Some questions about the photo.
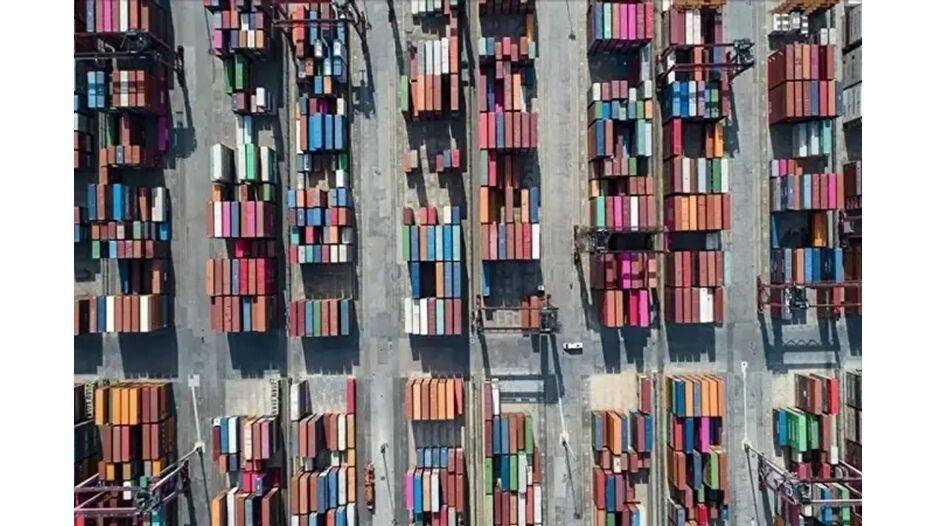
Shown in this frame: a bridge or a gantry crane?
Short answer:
gantry crane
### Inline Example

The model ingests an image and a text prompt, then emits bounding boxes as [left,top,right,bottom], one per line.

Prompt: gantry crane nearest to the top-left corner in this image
[63,31,182,79]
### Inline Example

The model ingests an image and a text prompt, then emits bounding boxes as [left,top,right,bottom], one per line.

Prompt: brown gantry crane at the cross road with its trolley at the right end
[468,292,558,336]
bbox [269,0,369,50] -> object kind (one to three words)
container crane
